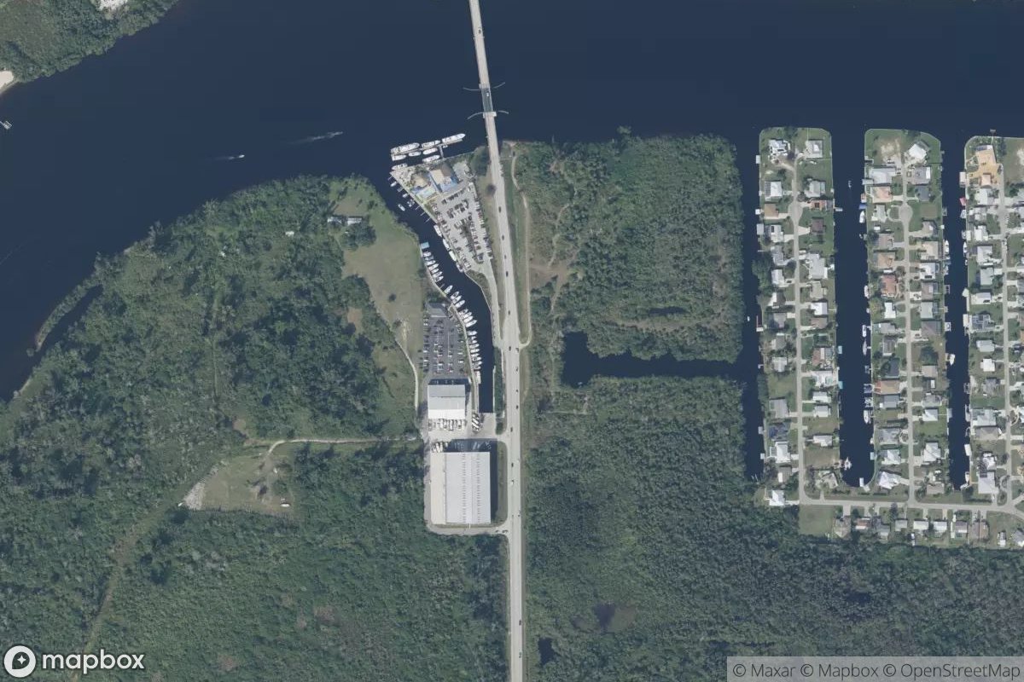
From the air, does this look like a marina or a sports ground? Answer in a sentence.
It's a marina.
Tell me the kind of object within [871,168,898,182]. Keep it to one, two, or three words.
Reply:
house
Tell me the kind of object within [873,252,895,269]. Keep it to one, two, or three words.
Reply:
house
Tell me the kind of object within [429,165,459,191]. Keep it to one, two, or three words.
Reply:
building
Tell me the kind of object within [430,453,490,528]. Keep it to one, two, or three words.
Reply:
building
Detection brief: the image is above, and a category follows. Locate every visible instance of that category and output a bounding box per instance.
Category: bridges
[463,0,508,205]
